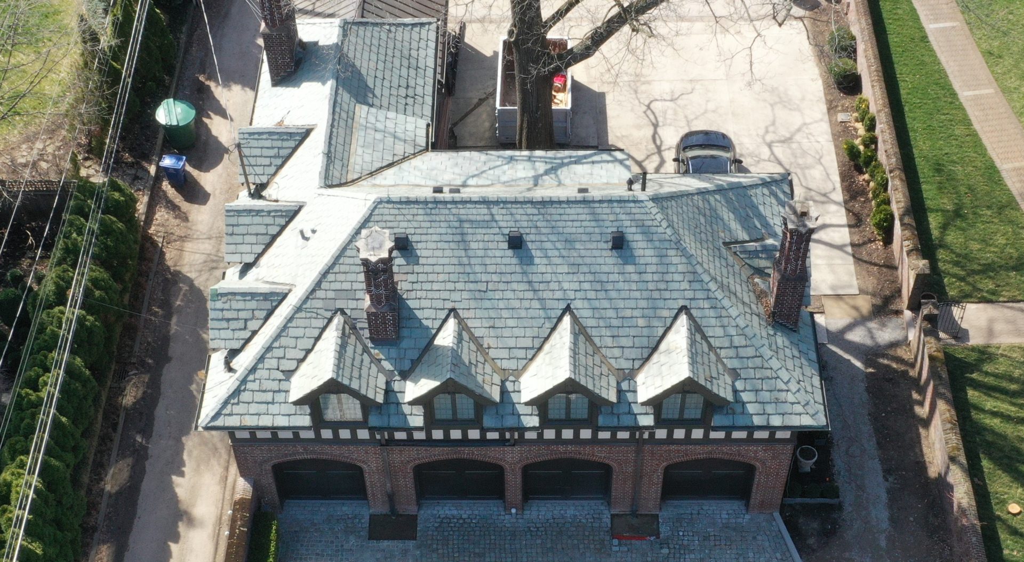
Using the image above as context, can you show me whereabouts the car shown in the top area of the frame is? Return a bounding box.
[674,125,748,173]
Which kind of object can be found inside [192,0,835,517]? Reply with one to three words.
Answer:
house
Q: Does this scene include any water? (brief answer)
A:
No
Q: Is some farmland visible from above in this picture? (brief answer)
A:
No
